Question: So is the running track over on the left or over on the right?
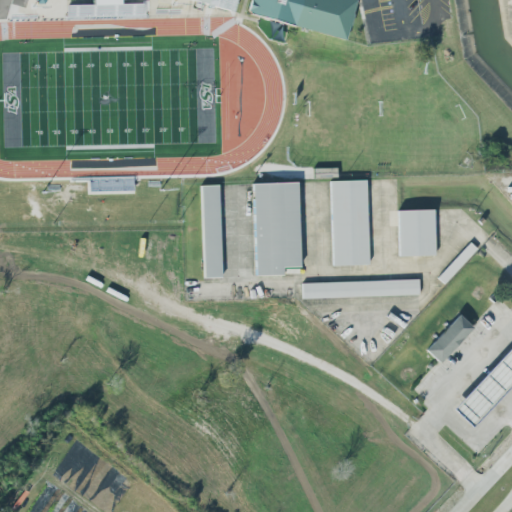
left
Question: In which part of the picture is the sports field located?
top left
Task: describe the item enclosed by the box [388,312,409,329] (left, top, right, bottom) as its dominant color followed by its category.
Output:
white camper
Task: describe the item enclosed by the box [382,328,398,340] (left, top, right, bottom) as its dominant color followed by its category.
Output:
white vehicle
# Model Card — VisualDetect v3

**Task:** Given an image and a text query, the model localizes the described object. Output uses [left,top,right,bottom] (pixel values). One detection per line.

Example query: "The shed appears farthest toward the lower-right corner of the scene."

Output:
[456,351,512,426]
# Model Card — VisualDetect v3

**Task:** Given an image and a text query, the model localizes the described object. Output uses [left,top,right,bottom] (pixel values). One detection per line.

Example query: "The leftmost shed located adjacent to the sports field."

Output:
[202,185,223,276]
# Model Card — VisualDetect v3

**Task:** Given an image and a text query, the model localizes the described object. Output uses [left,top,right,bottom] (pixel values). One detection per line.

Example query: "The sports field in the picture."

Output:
[0,34,220,160]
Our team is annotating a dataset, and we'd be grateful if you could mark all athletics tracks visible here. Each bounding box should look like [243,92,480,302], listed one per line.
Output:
[0,16,285,180]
